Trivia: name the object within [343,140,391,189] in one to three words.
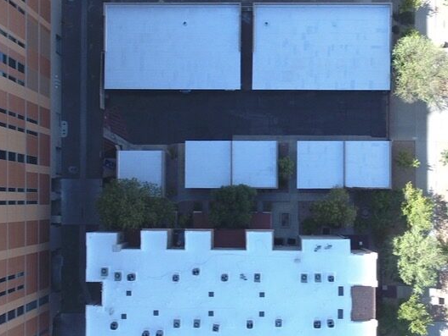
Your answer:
house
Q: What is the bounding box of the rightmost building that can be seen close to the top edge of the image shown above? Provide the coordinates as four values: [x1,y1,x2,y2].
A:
[253,2,391,94]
